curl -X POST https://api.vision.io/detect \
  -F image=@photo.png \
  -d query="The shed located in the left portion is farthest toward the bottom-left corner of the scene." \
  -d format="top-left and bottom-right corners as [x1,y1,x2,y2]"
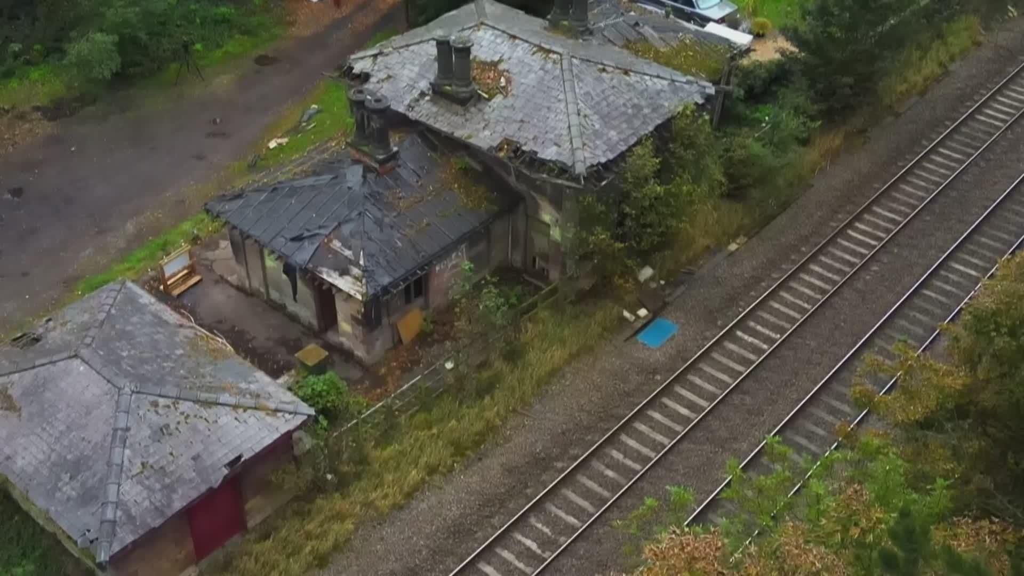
[0,278,318,576]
